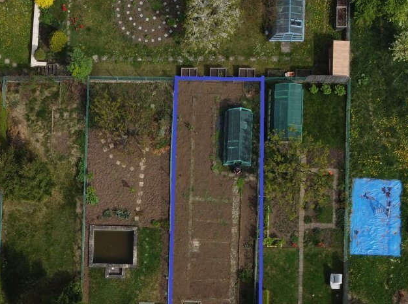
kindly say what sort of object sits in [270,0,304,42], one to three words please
greenhouse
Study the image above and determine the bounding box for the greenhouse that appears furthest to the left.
[225,106,252,167]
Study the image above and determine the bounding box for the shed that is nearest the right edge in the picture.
[325,41,350,85]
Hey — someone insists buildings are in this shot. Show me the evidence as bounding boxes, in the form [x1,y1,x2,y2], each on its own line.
[272,78,303,146]
[325,41,350,85]
[225,106,252,167]
[270,0,304,42]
